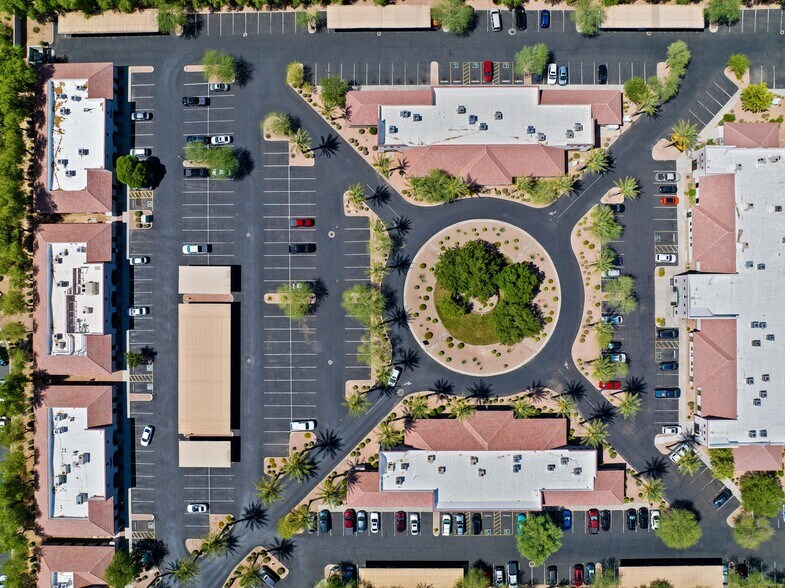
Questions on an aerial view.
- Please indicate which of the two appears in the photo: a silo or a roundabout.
roundabout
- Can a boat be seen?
No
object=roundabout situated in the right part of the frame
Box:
[403,218,561,376]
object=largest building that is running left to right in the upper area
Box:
[346,87,622,186]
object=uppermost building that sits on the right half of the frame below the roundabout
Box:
[346,410,626,511]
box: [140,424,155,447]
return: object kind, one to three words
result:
car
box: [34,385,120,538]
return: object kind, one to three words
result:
building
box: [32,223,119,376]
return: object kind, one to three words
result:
building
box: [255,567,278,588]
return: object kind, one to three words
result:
vehicle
